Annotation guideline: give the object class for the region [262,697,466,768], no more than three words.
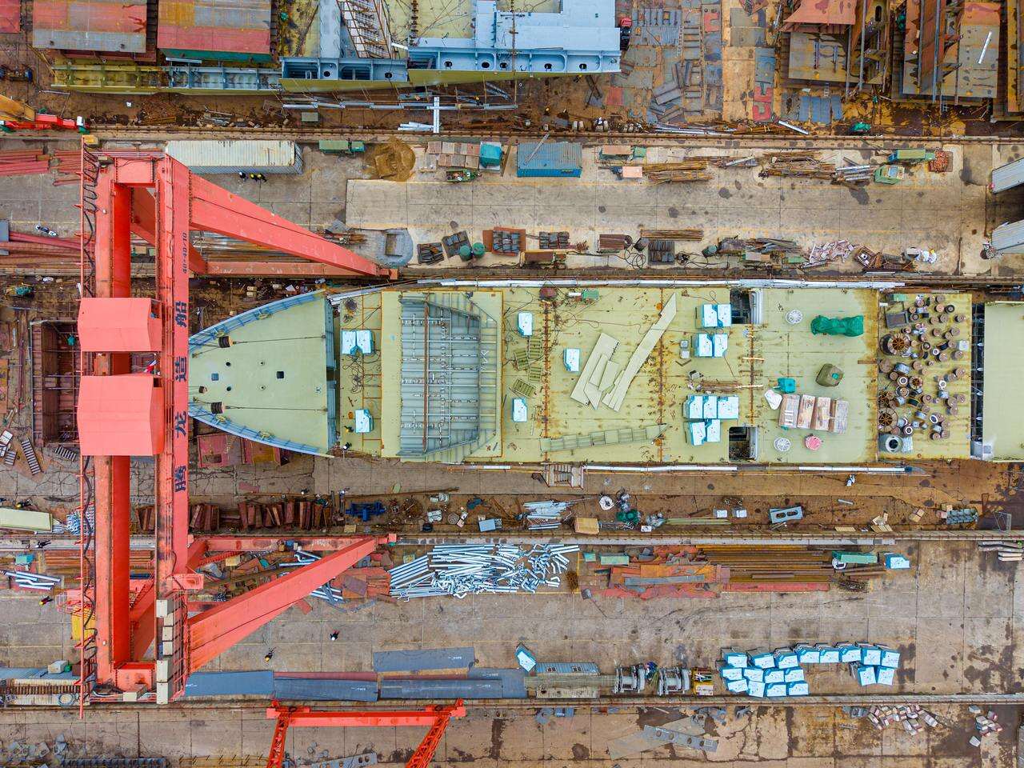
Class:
container crane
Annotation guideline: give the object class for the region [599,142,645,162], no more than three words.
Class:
vehicle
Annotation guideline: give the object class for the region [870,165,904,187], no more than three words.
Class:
vehicle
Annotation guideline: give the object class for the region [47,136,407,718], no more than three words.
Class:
container crane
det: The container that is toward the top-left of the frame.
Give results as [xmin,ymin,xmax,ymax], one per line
[167,141,303,174]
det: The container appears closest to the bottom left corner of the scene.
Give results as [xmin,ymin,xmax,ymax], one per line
[0,505,65,530]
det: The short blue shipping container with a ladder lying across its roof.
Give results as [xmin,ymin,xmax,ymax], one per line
[517,143,582,176]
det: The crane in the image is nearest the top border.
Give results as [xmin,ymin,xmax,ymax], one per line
[0,95,95,136]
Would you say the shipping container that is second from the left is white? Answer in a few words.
Yes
